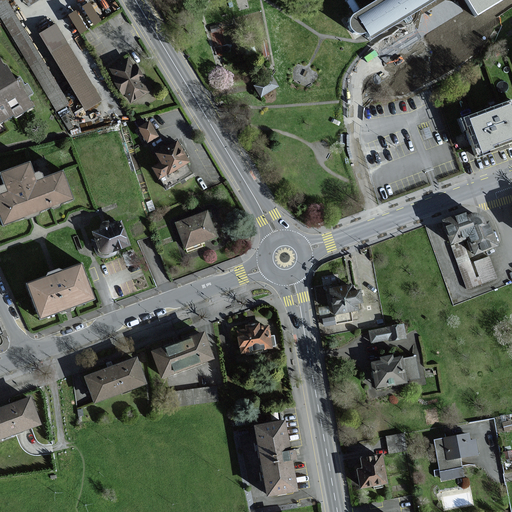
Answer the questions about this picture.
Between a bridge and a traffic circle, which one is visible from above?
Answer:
traffic circle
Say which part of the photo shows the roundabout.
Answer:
center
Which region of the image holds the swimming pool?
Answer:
bottom right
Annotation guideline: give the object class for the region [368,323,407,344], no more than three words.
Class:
building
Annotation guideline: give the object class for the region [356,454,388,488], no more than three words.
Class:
house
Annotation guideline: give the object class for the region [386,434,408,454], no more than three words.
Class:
building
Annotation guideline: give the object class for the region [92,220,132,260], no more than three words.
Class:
house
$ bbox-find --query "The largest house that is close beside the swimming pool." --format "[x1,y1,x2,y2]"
[434,433,479,482]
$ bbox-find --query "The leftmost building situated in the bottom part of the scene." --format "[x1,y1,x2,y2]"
[0,396,42,440]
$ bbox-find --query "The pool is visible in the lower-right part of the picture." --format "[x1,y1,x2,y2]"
[441,492,474,511]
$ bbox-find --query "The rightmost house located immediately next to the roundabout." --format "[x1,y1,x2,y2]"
[319,274,364,326]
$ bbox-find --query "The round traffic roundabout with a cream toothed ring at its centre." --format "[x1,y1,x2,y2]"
[257,229,313,285]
